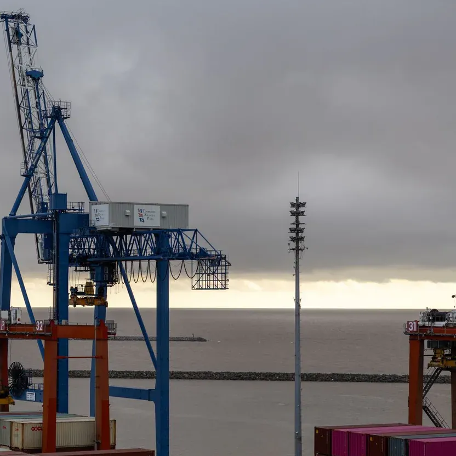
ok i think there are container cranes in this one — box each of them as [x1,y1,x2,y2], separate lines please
[0,303,125,453]
[394,302,456,430]
[0,11,228,456]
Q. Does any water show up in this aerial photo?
Yes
